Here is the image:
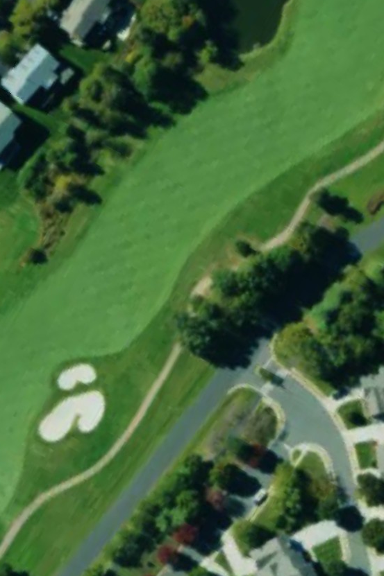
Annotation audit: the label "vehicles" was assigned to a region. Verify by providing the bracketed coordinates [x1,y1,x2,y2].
[47,9,60,19]
[277,429,287,442]
[255,490,266,503]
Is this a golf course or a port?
golf course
